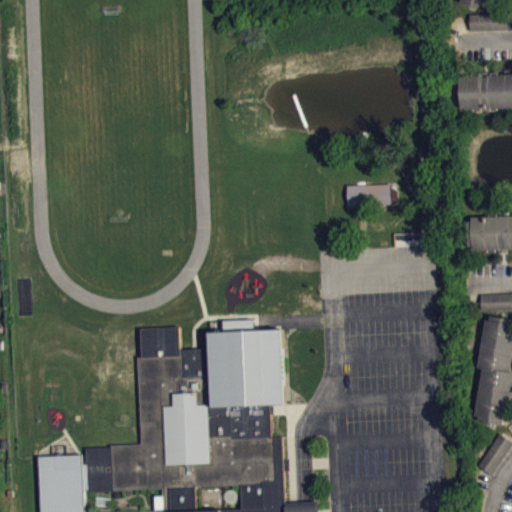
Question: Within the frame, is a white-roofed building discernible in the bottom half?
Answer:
Yes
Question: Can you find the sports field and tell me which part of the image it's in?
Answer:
top left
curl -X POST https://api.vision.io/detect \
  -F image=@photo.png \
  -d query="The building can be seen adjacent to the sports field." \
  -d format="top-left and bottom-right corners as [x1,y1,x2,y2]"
[82,320,284,512]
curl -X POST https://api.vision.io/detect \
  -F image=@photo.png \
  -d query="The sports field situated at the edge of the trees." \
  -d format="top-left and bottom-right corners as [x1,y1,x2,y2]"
[56,0,181,221]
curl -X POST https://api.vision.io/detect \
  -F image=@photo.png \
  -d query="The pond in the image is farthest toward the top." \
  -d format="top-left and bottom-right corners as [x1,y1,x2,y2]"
[264,65,414,136]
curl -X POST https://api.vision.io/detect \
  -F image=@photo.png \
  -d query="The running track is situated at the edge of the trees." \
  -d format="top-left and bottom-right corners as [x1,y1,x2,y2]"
[26,0,212,314]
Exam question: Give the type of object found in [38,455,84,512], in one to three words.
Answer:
building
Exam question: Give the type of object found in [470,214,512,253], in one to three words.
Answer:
house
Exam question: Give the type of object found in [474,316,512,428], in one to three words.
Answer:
house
